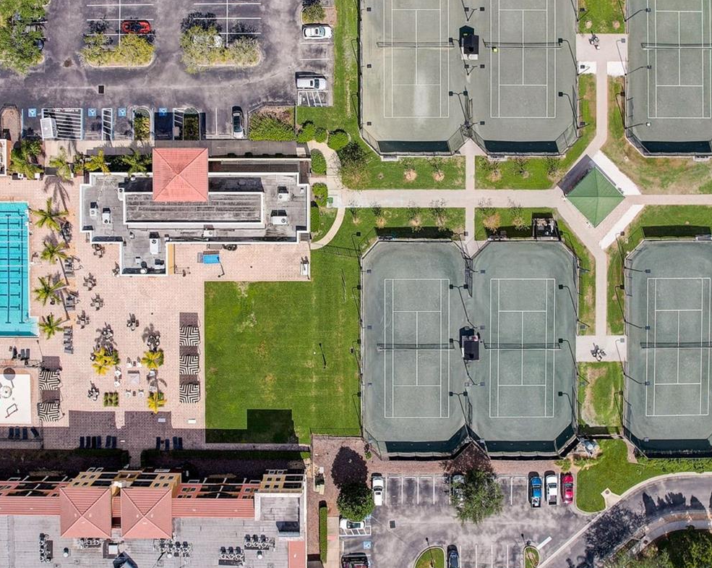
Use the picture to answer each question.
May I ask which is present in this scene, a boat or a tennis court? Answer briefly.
tennis court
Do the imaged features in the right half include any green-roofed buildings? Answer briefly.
Yes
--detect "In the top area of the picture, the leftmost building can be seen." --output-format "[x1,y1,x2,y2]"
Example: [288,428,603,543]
[79,147,311,276]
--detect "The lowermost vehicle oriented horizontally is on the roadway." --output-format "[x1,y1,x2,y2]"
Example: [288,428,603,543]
[341,554,370,568]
